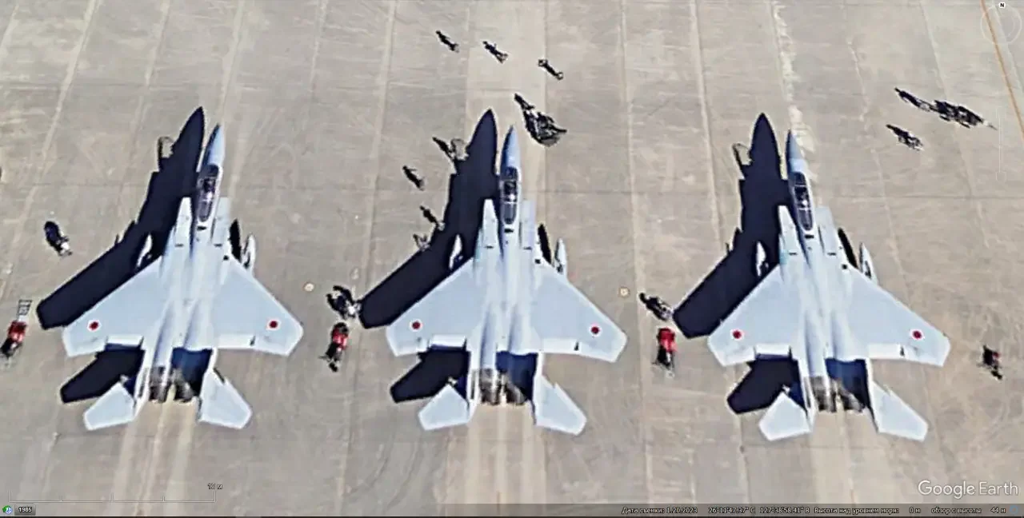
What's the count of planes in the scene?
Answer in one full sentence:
The count of planes comes to 3.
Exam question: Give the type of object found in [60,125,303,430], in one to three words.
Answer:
airplane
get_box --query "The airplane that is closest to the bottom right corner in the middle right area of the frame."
[708,133,951,440]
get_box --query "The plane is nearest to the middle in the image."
[385,127,627,434]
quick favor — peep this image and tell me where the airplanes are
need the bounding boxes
[60,125,303,430]
[708,133,951,440]
[385,127,627,434]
